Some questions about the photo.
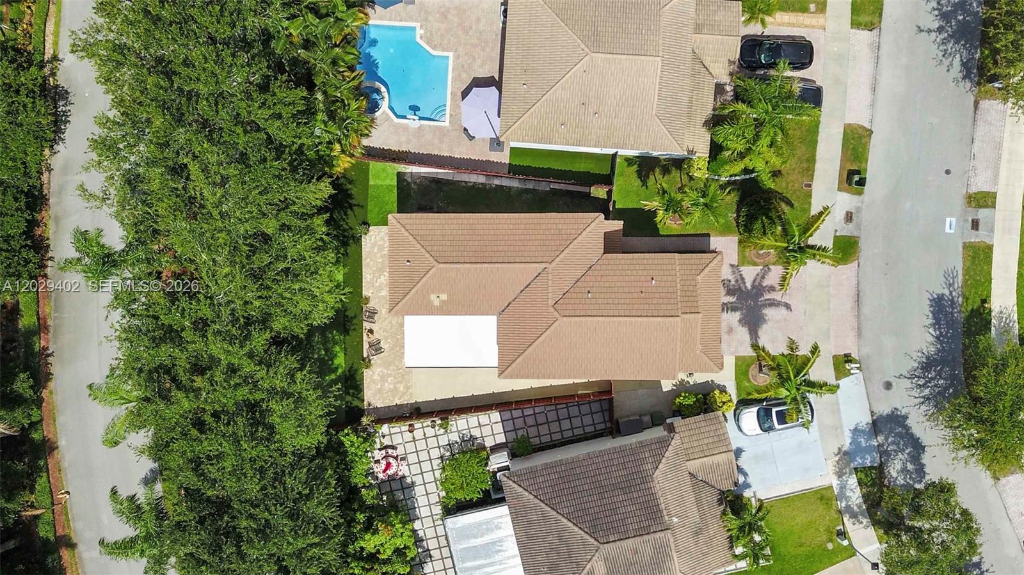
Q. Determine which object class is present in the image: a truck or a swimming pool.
swimming pool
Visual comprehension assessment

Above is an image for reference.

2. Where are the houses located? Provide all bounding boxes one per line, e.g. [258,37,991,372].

[386,211,724,381]
[499,0,740,160]
[501,411,740,575]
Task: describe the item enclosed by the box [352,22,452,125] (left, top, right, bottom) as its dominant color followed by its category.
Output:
blue swimming pool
